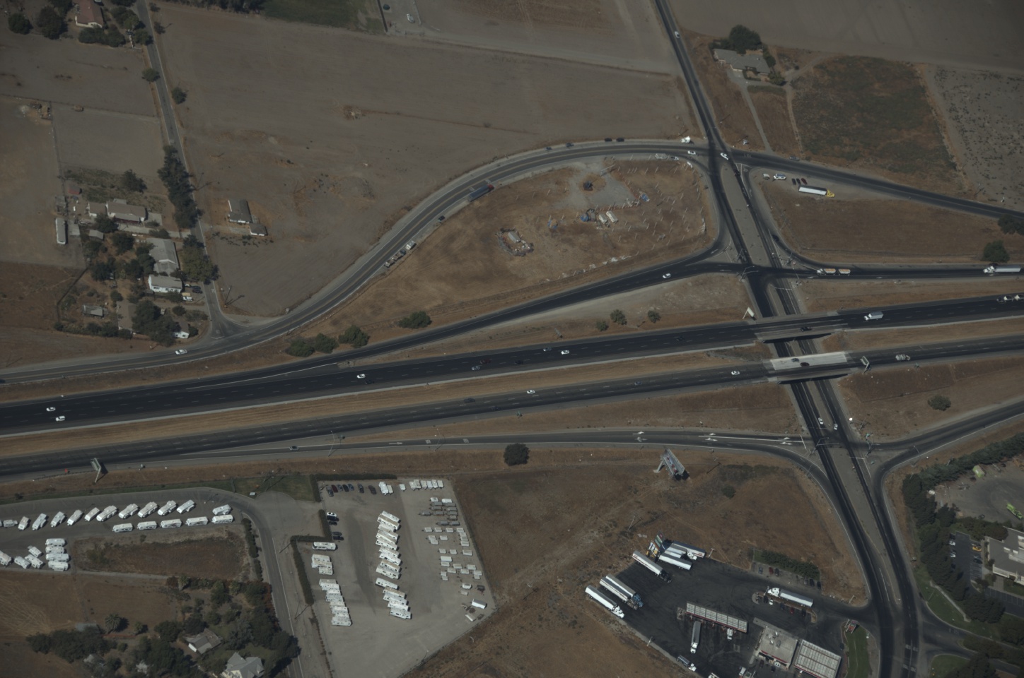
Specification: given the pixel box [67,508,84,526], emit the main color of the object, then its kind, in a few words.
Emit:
white camper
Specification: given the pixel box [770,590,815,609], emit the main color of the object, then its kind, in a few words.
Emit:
white vehicle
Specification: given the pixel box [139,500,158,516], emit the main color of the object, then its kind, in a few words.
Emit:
white camper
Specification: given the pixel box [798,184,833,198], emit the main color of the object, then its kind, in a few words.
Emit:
white vehicle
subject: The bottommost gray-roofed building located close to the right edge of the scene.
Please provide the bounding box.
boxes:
[990,544,1024,592]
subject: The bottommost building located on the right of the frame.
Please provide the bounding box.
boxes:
[757,627,806,674]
